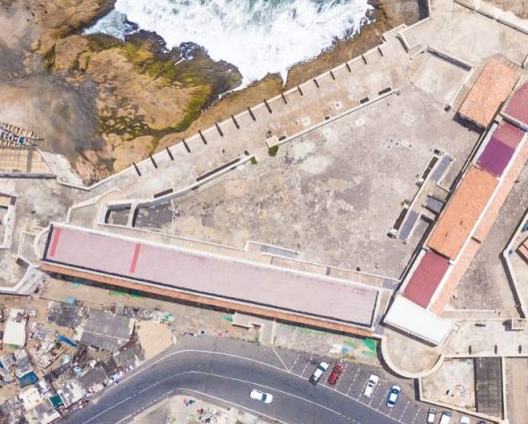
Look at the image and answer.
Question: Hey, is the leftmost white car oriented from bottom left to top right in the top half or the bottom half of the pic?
bottom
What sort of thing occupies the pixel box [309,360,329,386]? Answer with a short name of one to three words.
car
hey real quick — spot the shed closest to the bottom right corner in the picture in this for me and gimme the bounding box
[476,357,501,416]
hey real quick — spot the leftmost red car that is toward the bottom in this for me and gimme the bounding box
[327,363,343,386]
